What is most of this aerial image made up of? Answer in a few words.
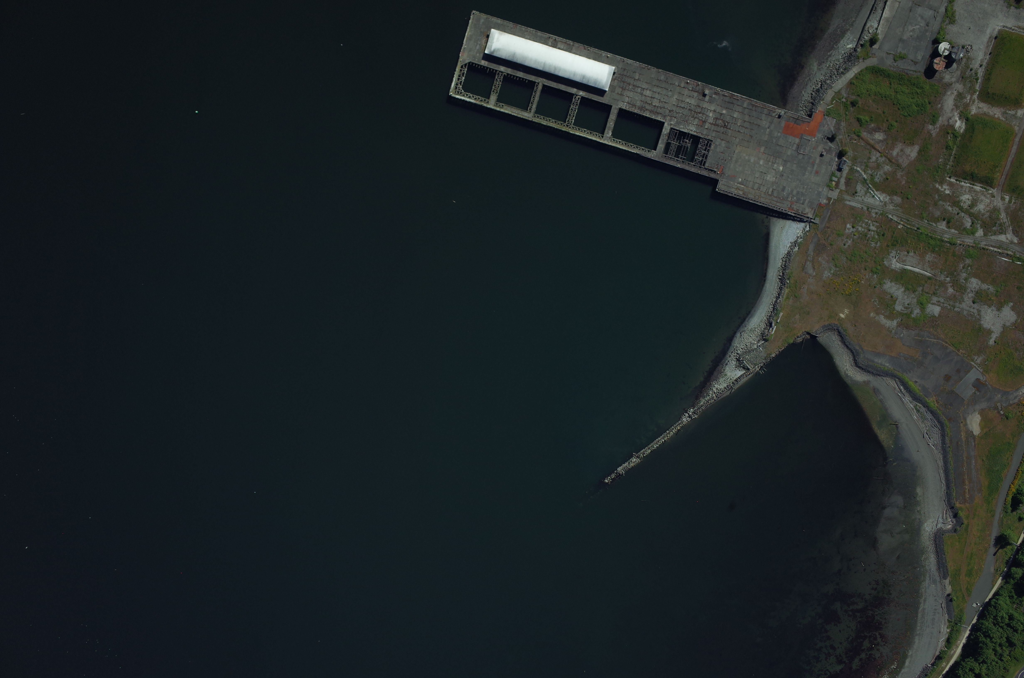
water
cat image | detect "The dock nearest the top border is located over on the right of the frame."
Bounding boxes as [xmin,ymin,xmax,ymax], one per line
[450,11,841,224]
